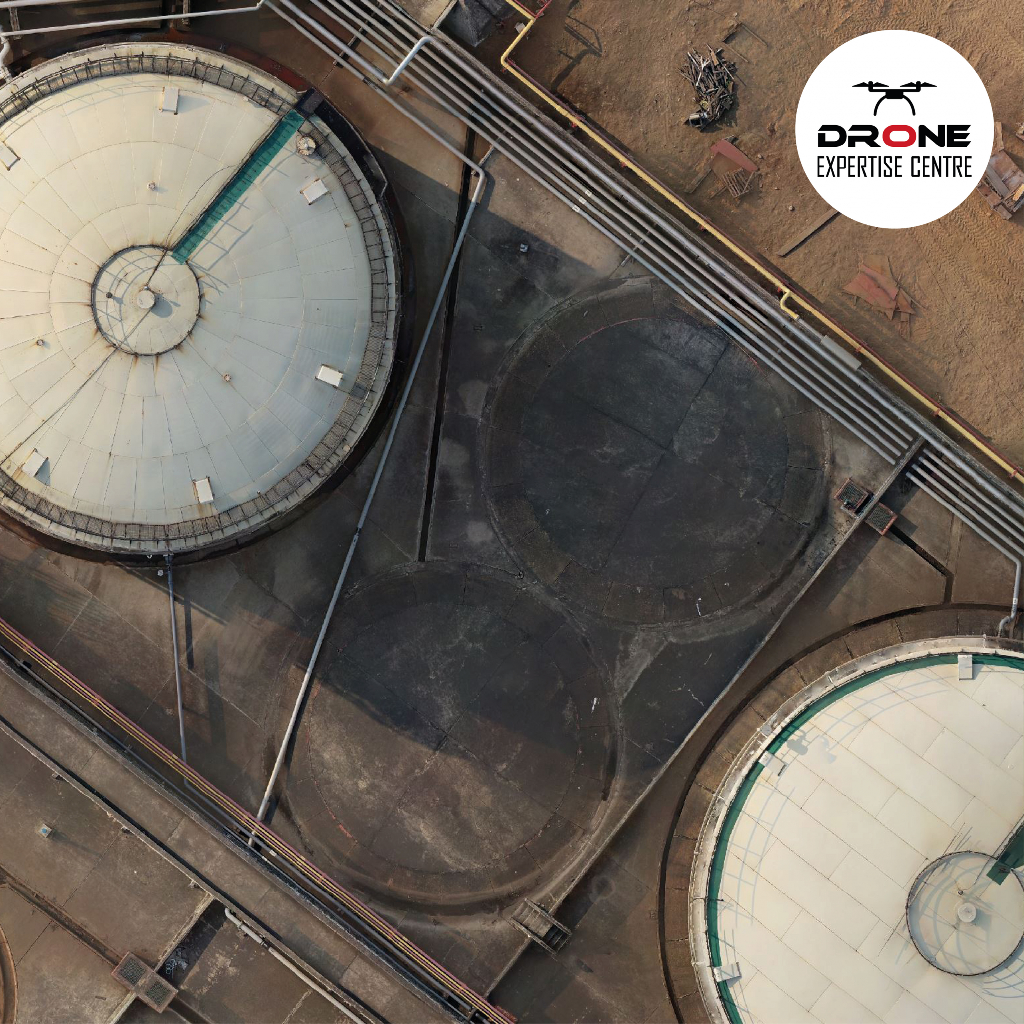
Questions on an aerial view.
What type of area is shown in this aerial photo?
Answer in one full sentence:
It's an industrial area.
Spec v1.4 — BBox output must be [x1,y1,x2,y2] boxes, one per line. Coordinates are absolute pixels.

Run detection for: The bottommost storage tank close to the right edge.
[688,634,1024,1024]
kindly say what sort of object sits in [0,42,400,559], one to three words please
storage tank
